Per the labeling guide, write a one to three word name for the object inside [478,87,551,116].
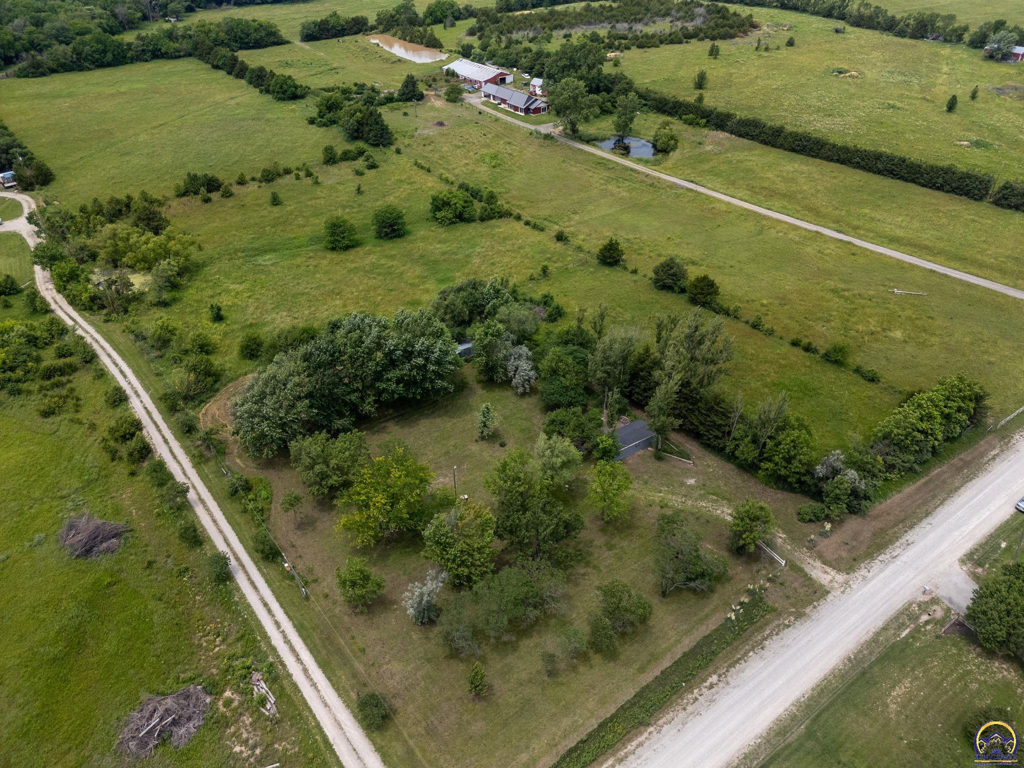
house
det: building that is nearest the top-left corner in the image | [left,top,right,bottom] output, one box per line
[441,58,517,87]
